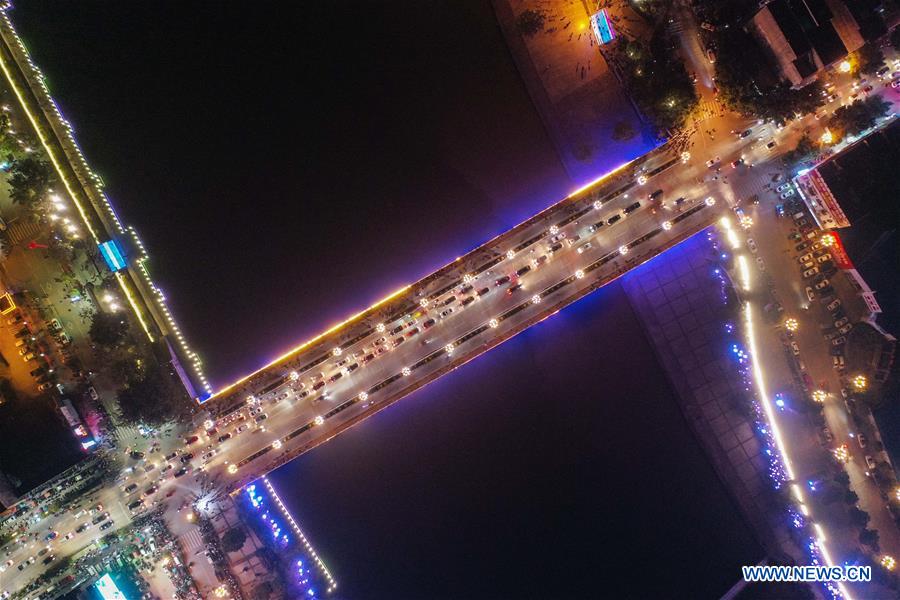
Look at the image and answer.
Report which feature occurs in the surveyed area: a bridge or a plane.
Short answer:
bridge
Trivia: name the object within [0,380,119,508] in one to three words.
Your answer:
building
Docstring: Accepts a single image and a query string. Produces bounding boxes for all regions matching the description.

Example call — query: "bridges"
[201,141,729,486]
